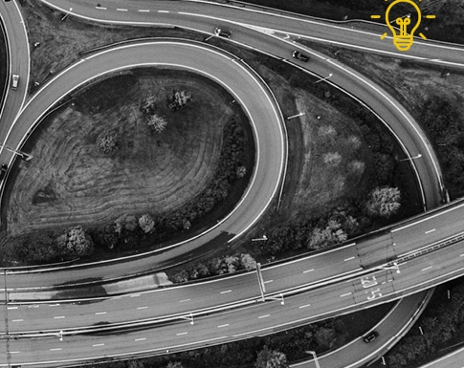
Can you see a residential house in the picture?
No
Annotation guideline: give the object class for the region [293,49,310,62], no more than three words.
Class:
vehicle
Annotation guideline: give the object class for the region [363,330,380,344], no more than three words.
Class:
car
